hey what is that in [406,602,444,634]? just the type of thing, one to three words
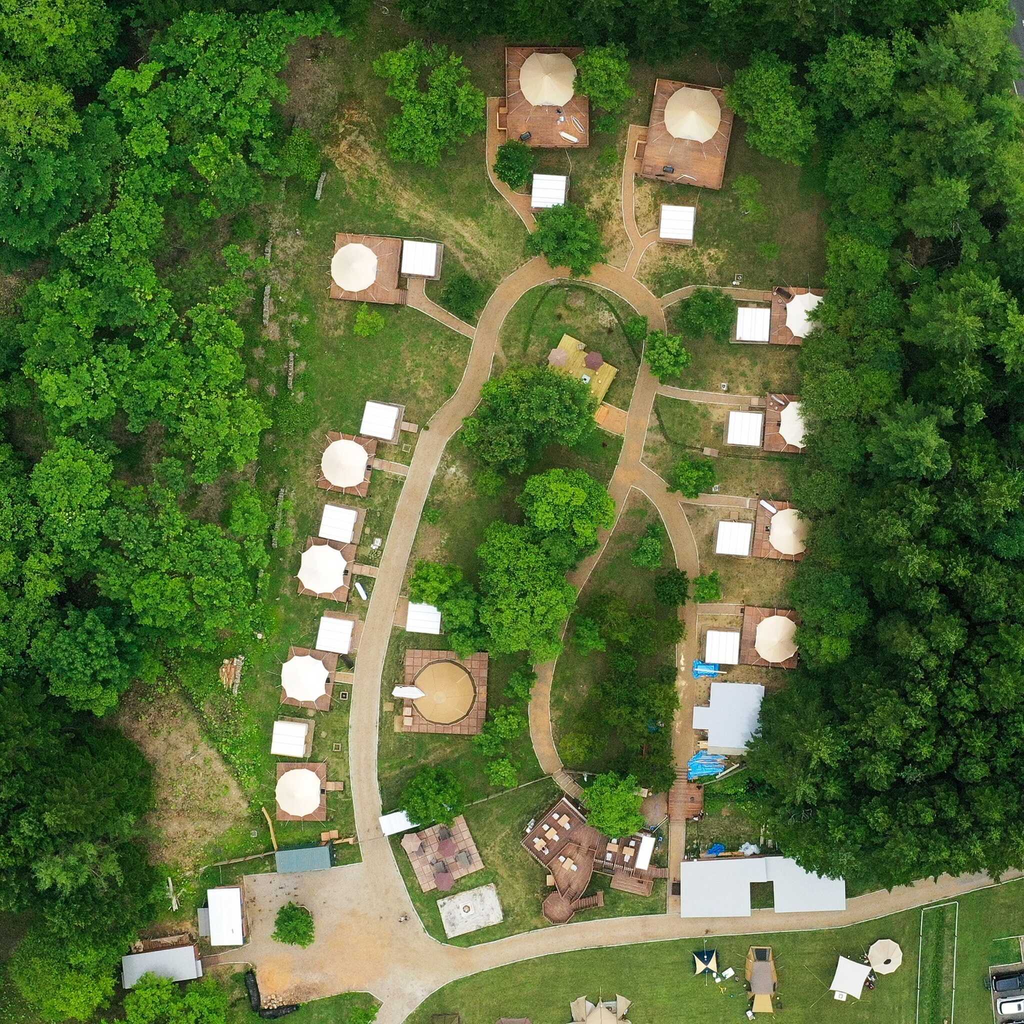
shed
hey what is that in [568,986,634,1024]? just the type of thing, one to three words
tent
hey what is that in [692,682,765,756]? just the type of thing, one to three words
building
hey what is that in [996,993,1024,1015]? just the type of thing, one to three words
car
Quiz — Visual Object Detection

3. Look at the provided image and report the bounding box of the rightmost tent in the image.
[868,939,902,974]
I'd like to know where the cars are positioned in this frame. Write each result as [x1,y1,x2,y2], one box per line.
[996,993,1024,1015]
[1002,1018,1024,1024]
[992,972,1024,995]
